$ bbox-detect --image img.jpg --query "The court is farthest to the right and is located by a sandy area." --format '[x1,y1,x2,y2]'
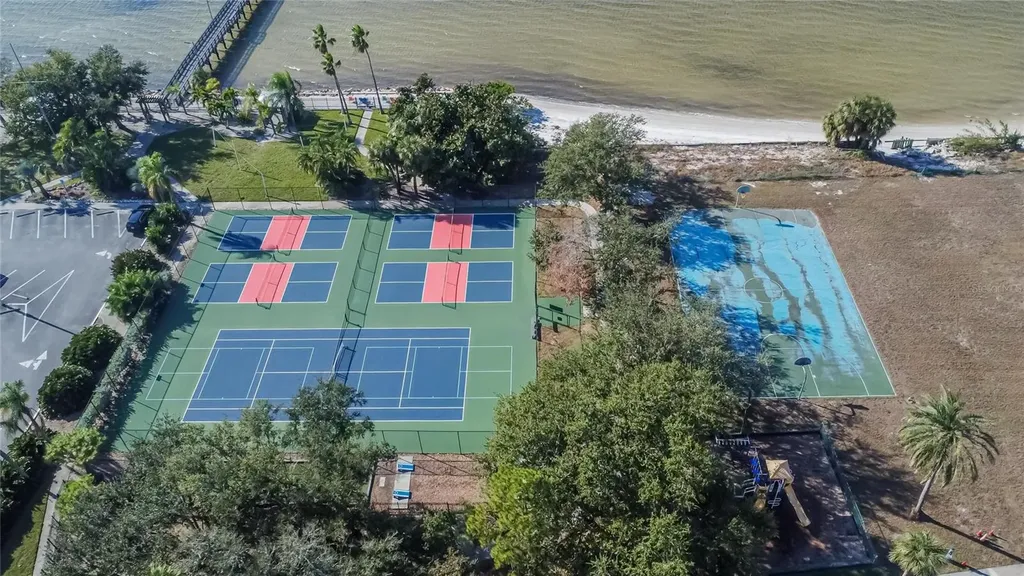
[665,209,895,396]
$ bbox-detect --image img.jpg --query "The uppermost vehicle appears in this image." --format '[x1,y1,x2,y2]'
[124,207,152,236]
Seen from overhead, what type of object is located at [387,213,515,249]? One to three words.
sports court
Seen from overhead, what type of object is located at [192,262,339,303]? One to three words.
sports court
